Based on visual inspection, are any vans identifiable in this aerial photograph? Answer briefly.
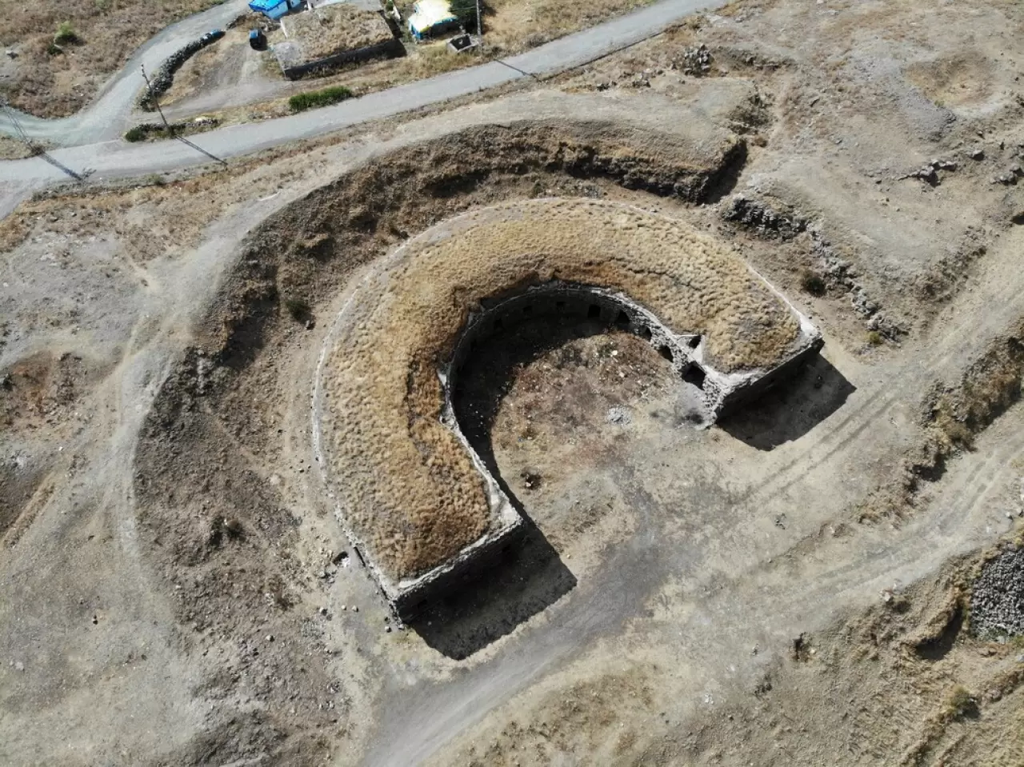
No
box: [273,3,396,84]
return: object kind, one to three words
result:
house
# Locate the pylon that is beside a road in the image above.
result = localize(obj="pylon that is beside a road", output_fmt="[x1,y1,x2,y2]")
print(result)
[0,96,44,154]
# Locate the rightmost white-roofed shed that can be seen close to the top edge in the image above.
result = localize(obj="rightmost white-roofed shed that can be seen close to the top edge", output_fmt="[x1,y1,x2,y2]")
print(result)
[407,0,460,45]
